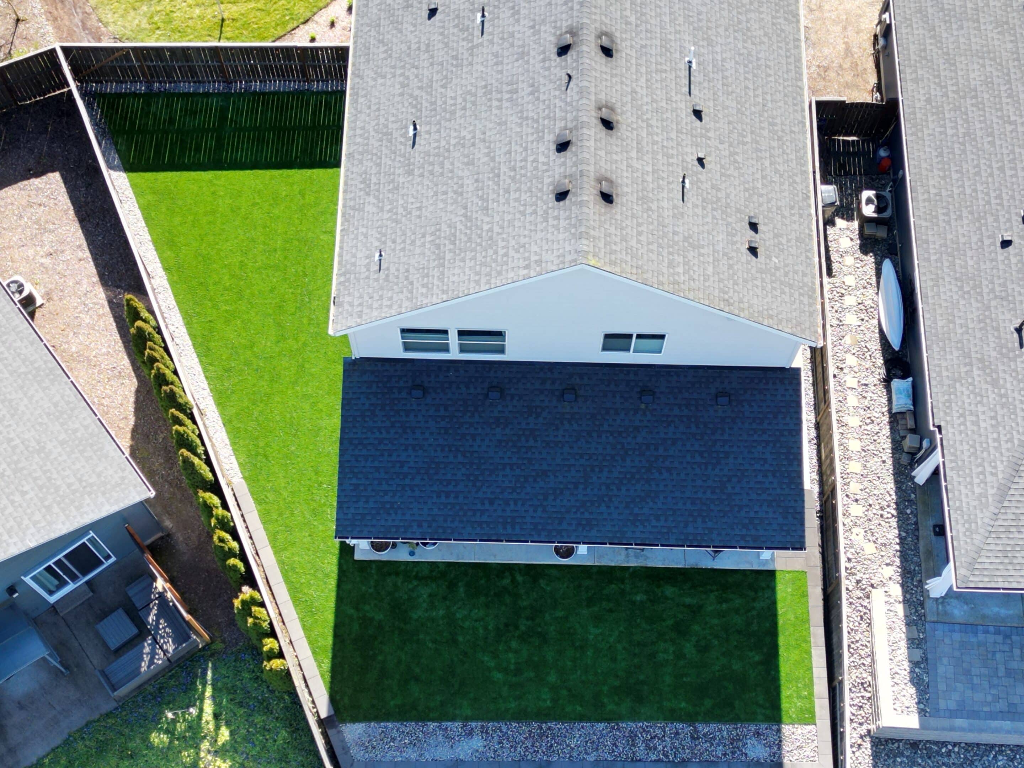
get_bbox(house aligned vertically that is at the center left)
[0,277,165,626]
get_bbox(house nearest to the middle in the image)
[329,0,823,560]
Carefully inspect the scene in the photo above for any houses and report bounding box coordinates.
[870,0,1024,601]
[0,277,165,626]
[329,0,823,560]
